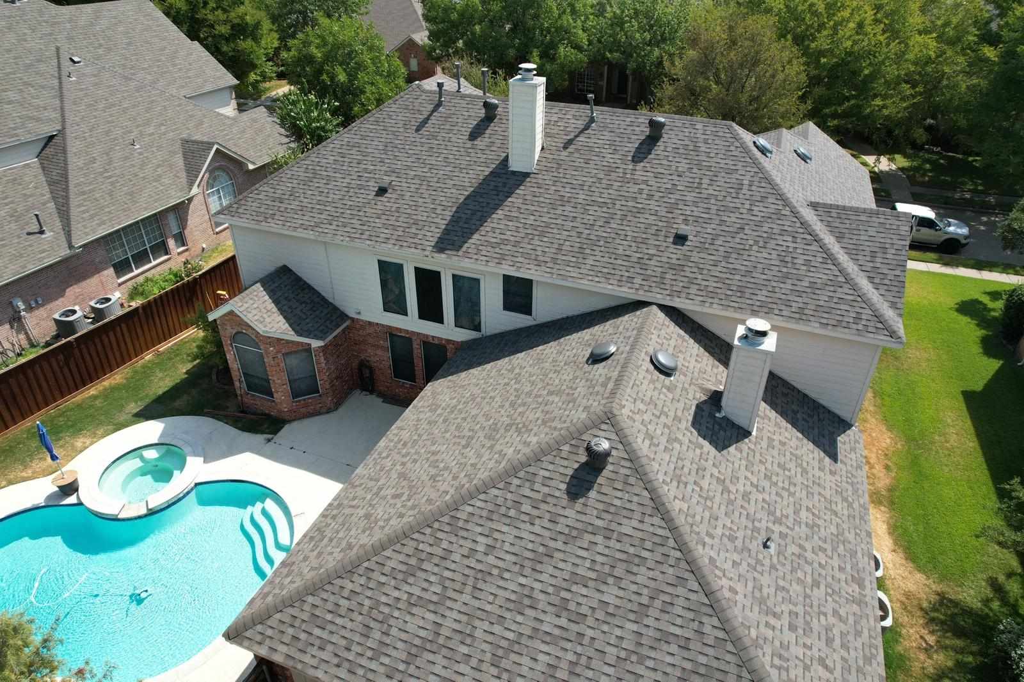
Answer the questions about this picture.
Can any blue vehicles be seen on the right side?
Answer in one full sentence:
No, the scene shows no blue vehicle on the right side.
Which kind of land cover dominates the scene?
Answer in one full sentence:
Most of the picture is covered by buildings.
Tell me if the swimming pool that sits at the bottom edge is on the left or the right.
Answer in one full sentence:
It is on the left.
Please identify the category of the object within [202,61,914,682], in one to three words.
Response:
house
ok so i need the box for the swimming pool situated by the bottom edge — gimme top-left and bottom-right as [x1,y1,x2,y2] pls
[0,439,306,682]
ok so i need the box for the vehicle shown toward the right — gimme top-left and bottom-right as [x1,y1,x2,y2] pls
[876,194,975,252]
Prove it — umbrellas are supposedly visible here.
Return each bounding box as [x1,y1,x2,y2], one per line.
[35,419,61,478]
